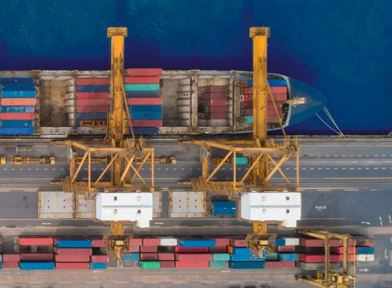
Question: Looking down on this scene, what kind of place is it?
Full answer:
It's a port.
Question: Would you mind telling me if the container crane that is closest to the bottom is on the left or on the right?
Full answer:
You can find the container crane that is closest to the bottom on the right side of the picture.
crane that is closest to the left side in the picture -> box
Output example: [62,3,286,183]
[51,17,156,265]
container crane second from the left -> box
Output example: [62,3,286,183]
[178,17,303,265]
